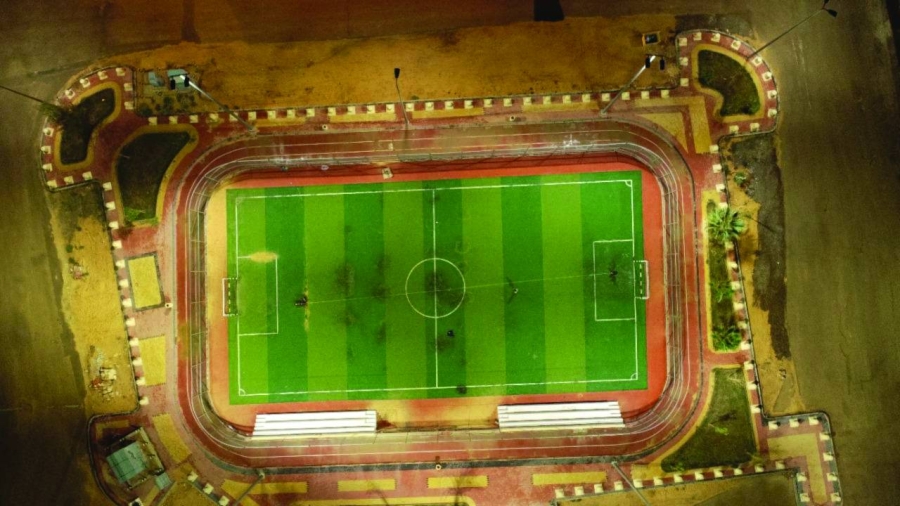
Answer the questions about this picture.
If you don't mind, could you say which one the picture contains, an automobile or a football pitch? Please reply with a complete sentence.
The image shows a football pitch.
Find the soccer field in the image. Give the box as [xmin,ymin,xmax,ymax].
[226,170,649,405]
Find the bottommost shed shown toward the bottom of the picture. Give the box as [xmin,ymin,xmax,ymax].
[106,425,170,489]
